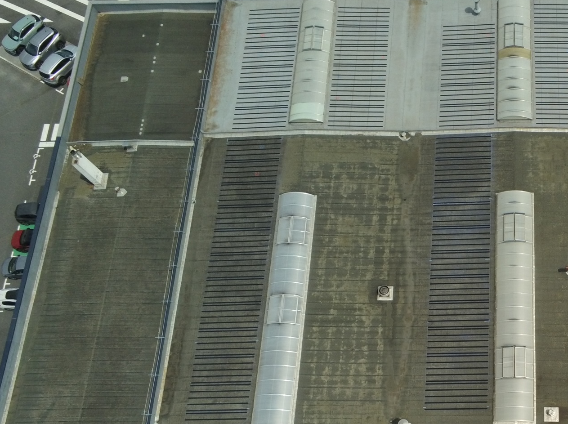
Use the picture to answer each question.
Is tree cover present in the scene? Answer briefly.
No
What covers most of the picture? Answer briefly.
buildings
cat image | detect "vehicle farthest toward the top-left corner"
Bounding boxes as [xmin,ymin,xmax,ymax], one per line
[1,15,47,52]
